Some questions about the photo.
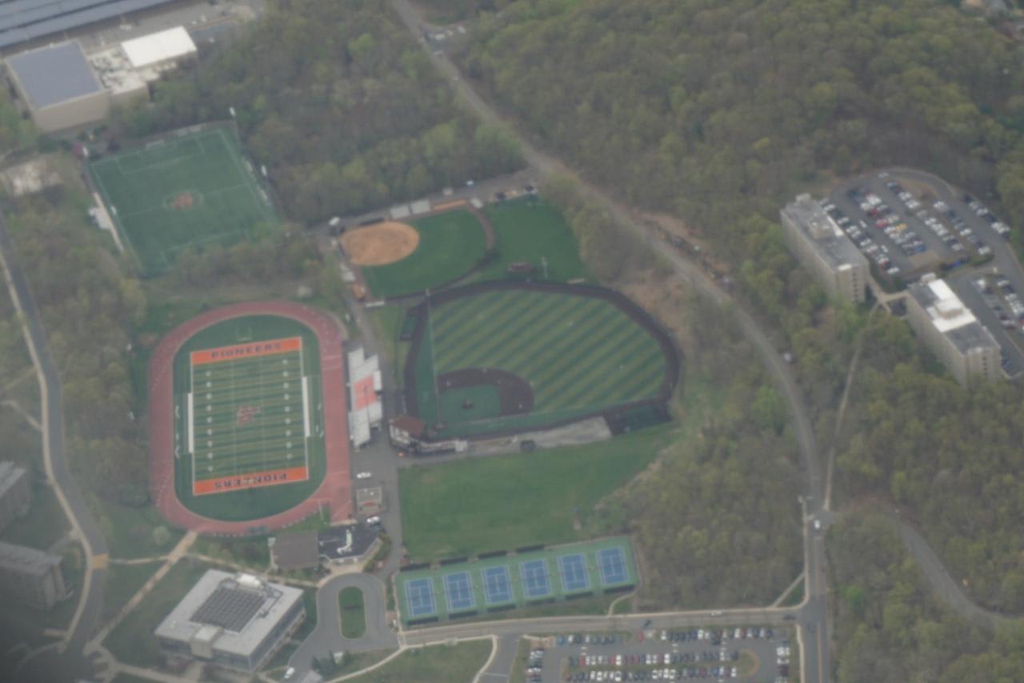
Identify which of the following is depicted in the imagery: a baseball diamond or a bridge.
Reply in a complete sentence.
There is a baseball diamond in the scene.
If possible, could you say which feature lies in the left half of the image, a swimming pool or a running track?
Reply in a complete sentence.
The one visible in the left half of the image is a running track.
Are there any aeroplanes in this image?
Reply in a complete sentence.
No, there's no aeroplane here.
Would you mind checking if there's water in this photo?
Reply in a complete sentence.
No, no water is visible.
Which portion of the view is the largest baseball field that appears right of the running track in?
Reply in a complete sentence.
You can find the largest baseball field that appears right of the running track in the center area of the picture.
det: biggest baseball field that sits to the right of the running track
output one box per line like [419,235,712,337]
[405,280,680,443]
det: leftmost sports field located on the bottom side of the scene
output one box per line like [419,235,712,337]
[175,315,326,522]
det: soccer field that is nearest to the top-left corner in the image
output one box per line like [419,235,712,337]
[87,121,284,275]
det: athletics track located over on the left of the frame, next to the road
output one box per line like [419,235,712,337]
[150,300,358,538]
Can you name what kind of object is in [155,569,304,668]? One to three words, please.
building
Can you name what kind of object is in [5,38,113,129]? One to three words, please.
building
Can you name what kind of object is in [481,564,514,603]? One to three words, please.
tennis court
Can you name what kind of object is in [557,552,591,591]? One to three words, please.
tennis court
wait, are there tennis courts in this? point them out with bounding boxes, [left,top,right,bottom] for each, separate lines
[442,569,475,610]
[519,558,553,597]
[557,552,591,591]
[481,564,514,603]
[404,575,437,616]
[595,546,630,585]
